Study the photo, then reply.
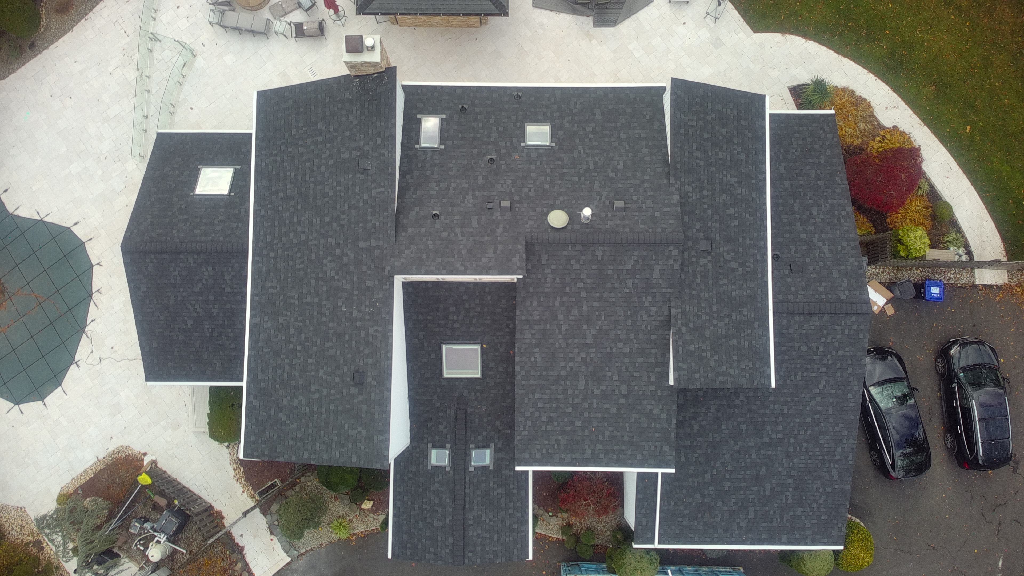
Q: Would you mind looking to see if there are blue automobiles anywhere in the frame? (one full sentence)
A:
No, the picture doesn't show any blue automobile.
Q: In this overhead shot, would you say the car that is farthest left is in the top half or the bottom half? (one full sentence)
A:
The bottom half of the photo is where the car that is farthest left is.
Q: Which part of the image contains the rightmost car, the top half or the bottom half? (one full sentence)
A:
Seen from above, the rightmost car lies in the bottom half of the view.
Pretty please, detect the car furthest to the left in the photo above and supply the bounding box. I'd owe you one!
[861,347,933,482]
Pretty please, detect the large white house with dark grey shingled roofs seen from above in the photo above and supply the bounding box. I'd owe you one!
[120,35,871,567]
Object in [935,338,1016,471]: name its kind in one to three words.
car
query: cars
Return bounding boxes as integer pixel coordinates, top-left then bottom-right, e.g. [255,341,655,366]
[935,338,1016,471]
[861,347,933,482]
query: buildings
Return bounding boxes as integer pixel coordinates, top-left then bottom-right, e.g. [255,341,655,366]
[356,0,509,28]
[120,35,871,567]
